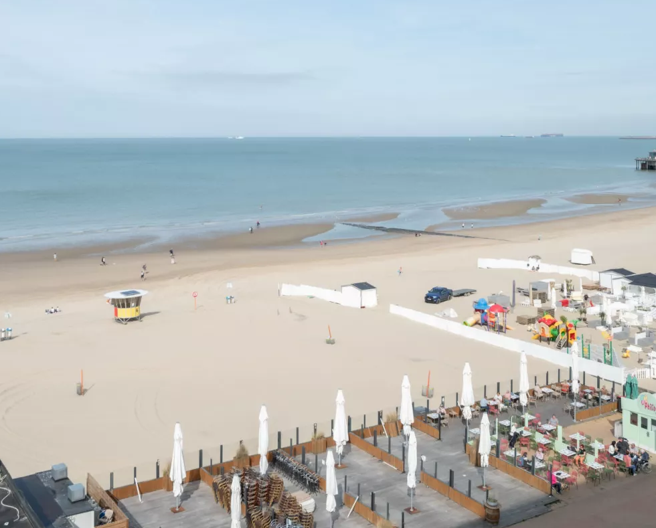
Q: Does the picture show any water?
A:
Yes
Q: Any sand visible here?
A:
Yes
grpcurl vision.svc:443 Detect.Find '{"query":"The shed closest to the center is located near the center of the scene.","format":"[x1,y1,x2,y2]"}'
[341,284,379,309]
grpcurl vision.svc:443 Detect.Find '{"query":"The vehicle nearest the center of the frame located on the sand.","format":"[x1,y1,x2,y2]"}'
[425,283,450,303]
